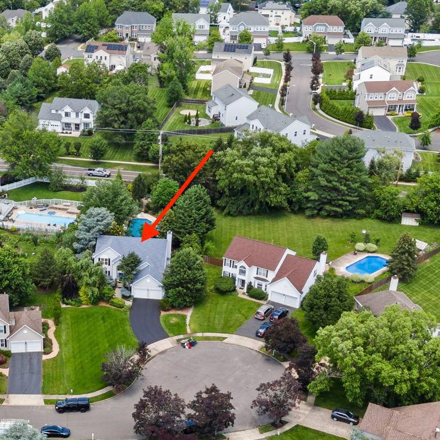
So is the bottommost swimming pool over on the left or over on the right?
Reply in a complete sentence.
The bottommost swimming pool is on the right side of the image.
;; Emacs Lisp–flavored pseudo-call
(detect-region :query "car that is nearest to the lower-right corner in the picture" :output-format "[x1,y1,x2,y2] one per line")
[329,406,362,426]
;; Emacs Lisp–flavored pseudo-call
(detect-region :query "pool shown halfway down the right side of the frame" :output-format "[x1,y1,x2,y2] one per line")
[344,255,390,276]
